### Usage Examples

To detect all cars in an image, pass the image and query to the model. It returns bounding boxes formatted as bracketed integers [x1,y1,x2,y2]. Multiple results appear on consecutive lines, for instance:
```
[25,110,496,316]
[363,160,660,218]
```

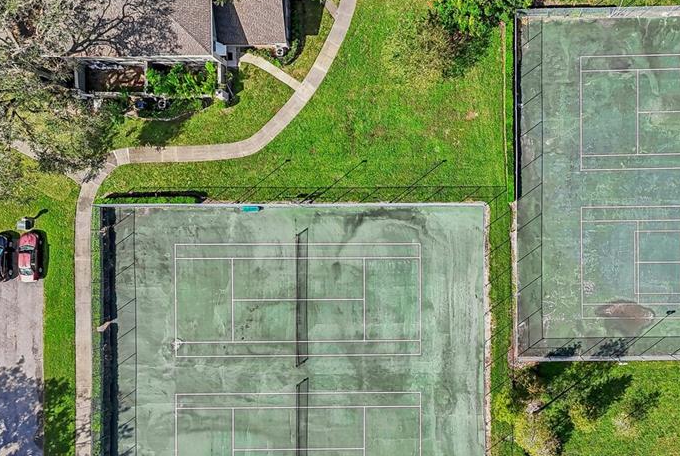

[0,233,15,283]
[16,232,43,284]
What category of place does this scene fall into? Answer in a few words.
sports ground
